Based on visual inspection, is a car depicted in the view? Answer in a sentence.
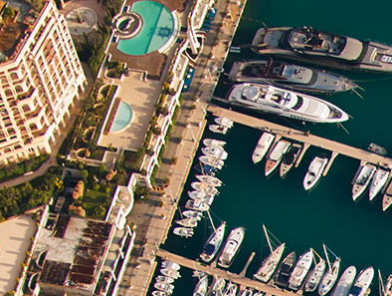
No, the photo shows no car.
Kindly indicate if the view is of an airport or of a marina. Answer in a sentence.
The area seen from above is a marina.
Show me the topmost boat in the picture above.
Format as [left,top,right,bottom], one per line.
[250,30,392,73]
